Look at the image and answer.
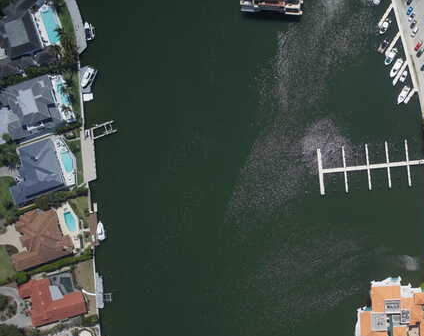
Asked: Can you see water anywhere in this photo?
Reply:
Yes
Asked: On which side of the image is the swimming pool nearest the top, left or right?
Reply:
left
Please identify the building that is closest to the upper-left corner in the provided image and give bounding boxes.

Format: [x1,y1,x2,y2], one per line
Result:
[0,0,63,80]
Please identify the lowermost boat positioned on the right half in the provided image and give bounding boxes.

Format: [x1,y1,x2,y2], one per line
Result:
[398,84,412,103]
